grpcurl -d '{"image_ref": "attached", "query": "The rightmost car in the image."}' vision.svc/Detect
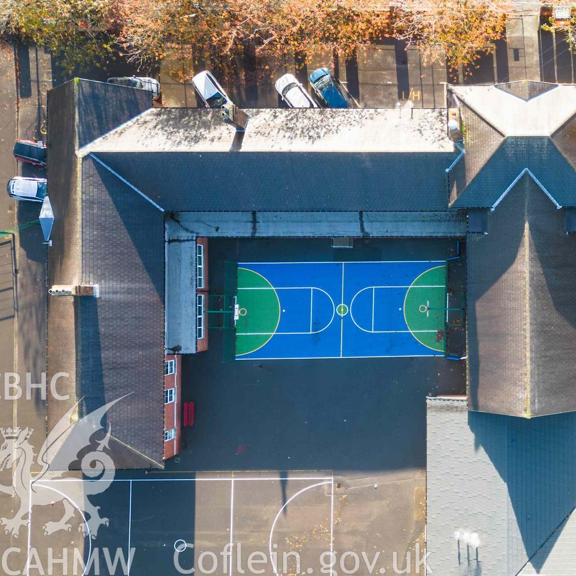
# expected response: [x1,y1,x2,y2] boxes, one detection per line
[310,65,356,107]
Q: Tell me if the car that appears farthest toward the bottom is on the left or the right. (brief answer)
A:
left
